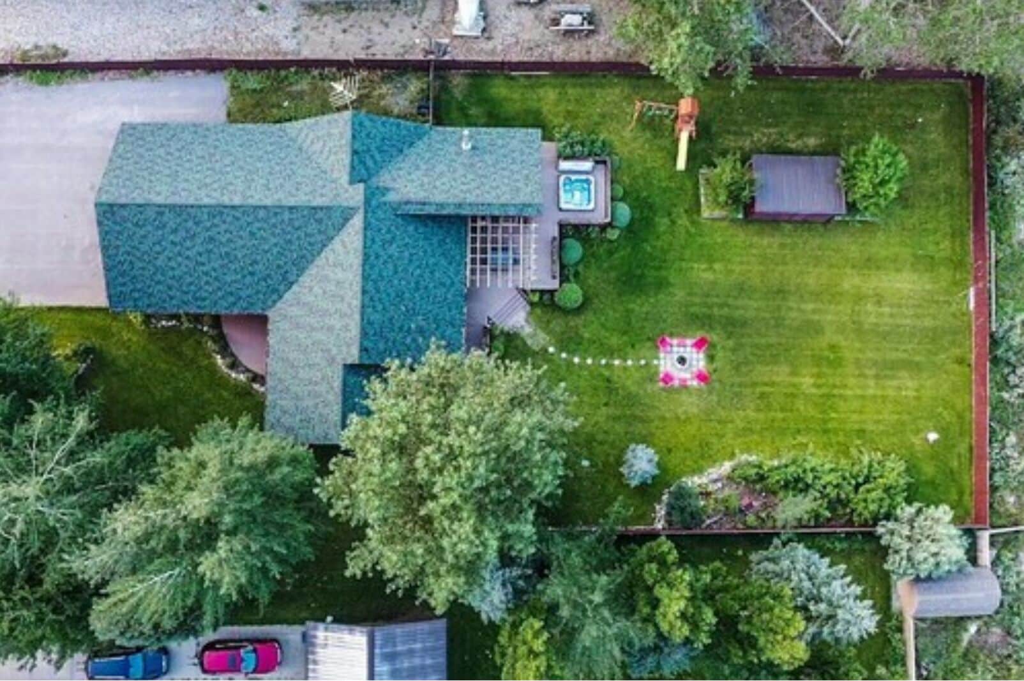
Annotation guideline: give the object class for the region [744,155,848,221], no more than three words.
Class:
shed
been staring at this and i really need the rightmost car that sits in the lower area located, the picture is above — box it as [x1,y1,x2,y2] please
[200,638,283,681]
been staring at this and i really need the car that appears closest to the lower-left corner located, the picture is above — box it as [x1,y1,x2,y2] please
[86,644,171,681]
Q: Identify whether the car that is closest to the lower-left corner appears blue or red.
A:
blue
